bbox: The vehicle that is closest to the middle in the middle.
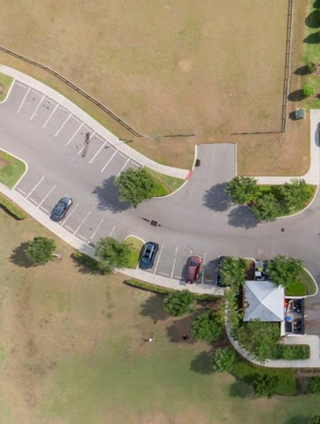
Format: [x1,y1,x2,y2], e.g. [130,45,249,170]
[141,242,157,268]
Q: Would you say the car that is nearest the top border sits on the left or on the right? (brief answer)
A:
left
